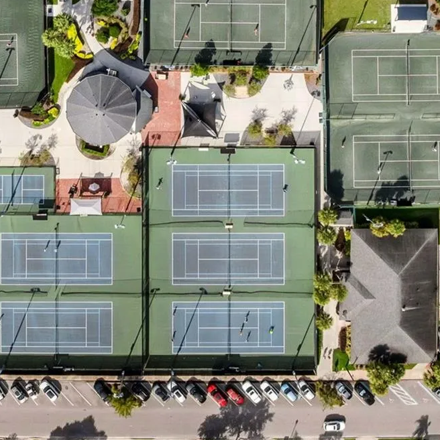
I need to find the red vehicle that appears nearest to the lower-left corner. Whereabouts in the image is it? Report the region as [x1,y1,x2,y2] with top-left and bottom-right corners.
[206,383,226,405]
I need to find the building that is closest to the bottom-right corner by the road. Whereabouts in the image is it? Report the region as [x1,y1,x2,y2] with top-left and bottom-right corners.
[337,229,437,364]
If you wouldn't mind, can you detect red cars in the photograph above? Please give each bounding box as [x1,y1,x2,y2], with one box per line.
[206,383,226,405]
[226,386,244,405]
